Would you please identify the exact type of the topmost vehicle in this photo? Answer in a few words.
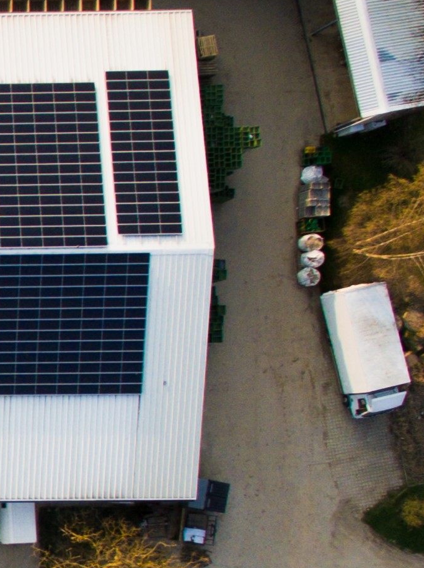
truck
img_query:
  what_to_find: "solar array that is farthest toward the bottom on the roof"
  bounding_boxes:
[0,254,150,394]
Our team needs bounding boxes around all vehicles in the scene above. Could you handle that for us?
[318,283,404,421]
[0,502,34,543]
